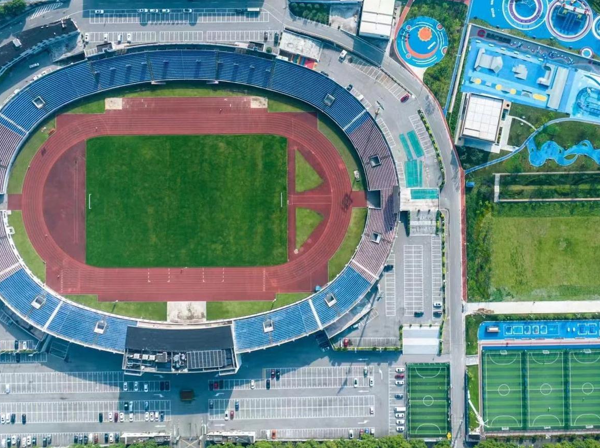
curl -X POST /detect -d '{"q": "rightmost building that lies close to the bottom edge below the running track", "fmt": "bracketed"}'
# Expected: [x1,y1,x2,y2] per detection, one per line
[207,429,256,443]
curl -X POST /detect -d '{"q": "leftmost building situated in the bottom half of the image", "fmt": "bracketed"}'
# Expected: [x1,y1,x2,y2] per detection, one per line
[122,429,173,445]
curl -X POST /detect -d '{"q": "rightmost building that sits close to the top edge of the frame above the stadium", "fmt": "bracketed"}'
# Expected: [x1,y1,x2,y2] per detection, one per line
[359,0,395,40]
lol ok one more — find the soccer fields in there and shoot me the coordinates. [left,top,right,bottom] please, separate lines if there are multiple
[407,363,449,438]
[483,350,525,431]
[86,135,288,267]
[568,349,600,430]
[526,350,567,430]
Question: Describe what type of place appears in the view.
sports ground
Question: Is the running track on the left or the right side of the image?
left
